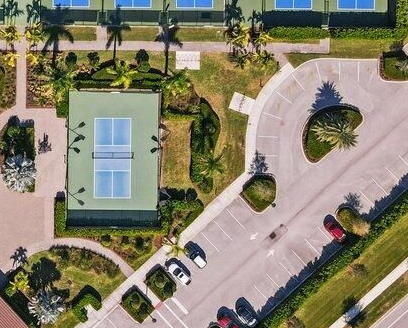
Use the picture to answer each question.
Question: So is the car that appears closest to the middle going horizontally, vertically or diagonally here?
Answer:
diagonally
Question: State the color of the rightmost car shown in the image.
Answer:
red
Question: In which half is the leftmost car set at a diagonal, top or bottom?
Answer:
bottom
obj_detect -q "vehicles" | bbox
[321,217,348,244]
[234,302,262,328]
[217,312,241,328]
[165,260,193,287]
[184,247,209,272]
